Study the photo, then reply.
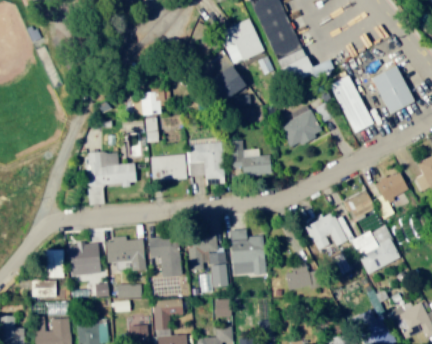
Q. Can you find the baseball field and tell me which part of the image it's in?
top left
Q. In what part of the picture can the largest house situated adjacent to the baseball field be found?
left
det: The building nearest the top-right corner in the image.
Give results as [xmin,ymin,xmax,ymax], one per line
[374,66,416,114]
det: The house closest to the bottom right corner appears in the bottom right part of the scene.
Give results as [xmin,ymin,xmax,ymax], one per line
[400,304,432,342]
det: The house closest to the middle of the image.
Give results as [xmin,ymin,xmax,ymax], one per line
[188,142,226,184]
